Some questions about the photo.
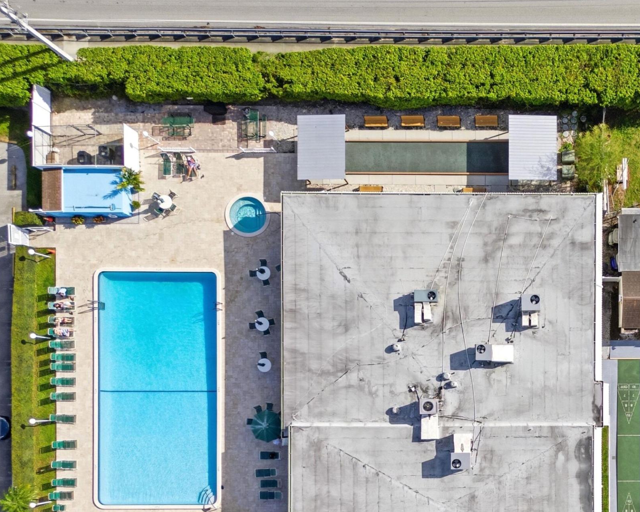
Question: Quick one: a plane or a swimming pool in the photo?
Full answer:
It is a swimming pool that can be seen here.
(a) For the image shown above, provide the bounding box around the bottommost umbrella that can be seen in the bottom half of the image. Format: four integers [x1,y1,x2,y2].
[254,413,283,442]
